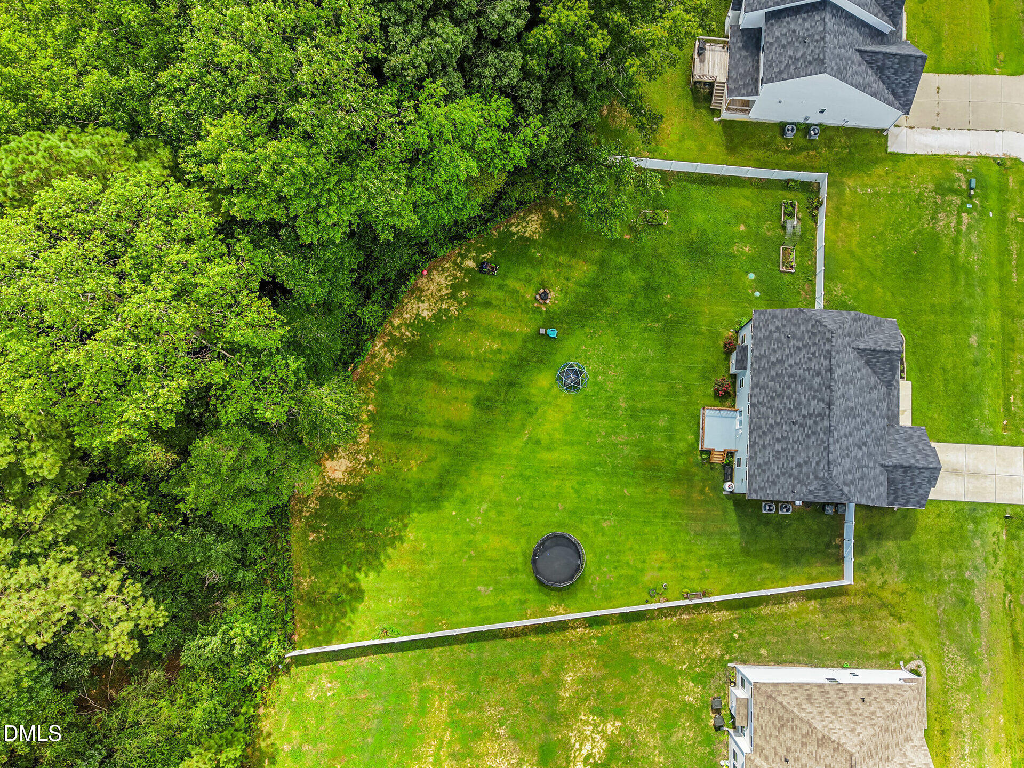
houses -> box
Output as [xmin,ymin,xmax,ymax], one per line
[711,0,928,137]
[722,652,940,768]
[729,304,943,509]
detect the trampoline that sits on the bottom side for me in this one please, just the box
[531,531,586,589]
